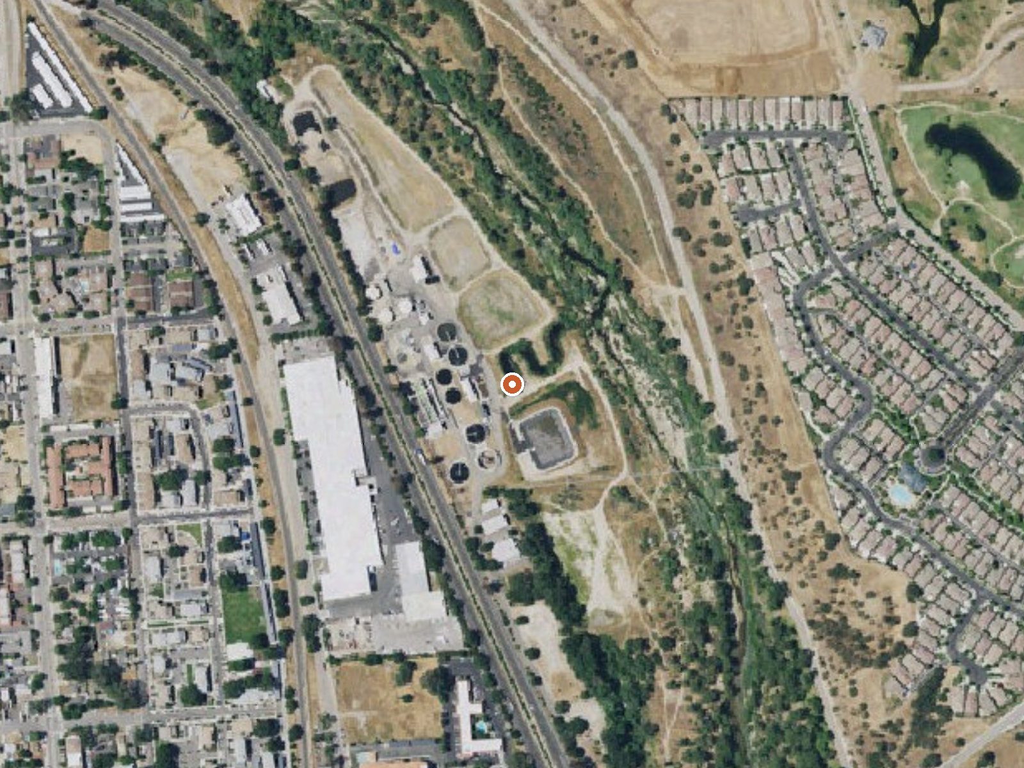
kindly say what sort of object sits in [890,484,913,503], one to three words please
swimming pool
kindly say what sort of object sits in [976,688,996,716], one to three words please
house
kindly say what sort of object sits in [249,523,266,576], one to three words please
building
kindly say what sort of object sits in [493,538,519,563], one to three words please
shed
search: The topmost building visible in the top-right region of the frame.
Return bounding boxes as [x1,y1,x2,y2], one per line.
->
[862,24,888,49]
